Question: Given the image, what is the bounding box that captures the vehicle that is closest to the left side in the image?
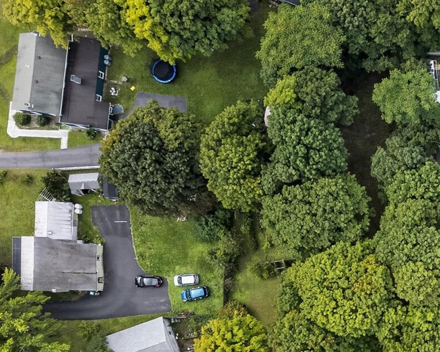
[132,274,161,288]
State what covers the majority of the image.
trees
